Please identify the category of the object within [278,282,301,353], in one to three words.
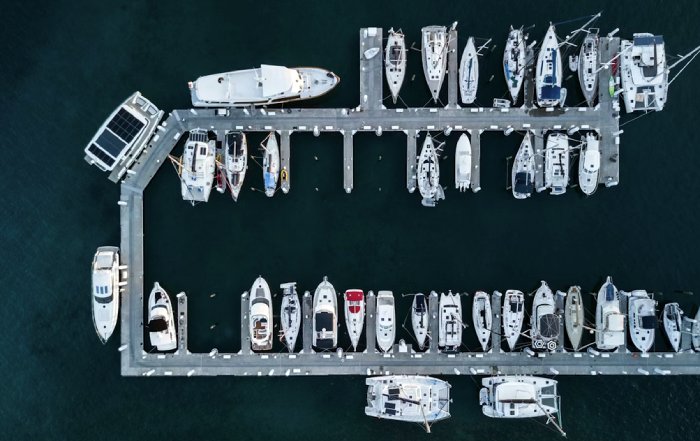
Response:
boat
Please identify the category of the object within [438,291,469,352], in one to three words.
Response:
boat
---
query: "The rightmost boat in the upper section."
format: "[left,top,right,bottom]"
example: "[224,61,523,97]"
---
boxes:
[617,34,700,127]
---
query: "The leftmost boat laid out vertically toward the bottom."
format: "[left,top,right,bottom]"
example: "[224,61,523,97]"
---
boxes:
[90,246,123,347]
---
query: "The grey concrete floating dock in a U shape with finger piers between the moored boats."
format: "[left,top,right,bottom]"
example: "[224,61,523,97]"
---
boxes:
[121,28,700,376]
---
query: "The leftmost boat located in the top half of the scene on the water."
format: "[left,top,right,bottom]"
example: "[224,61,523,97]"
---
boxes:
[85,92,167,183]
